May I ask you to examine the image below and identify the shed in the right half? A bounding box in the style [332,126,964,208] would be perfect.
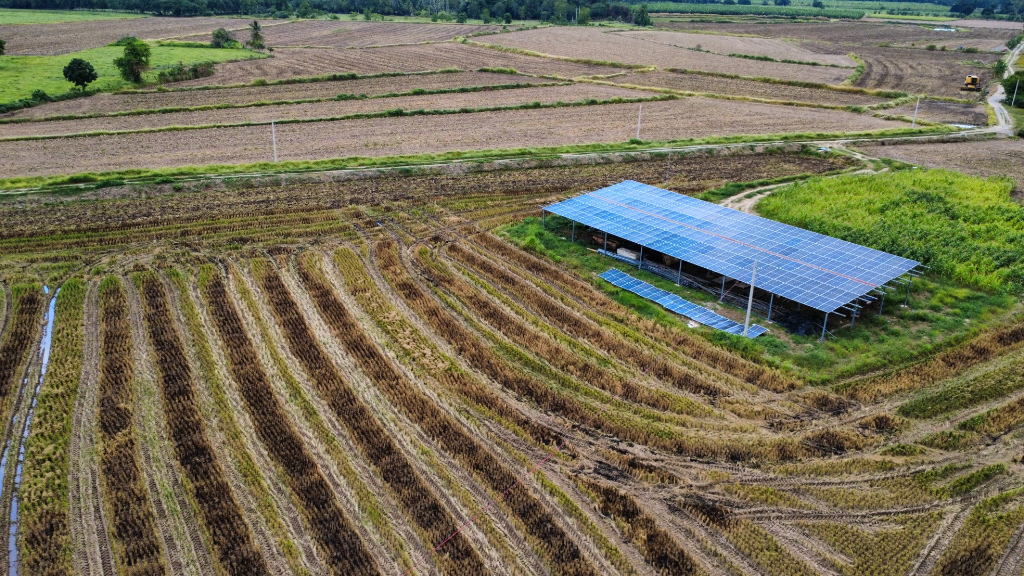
[539,178,935,347]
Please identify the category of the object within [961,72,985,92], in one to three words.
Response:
work vehicle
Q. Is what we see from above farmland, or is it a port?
farmland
